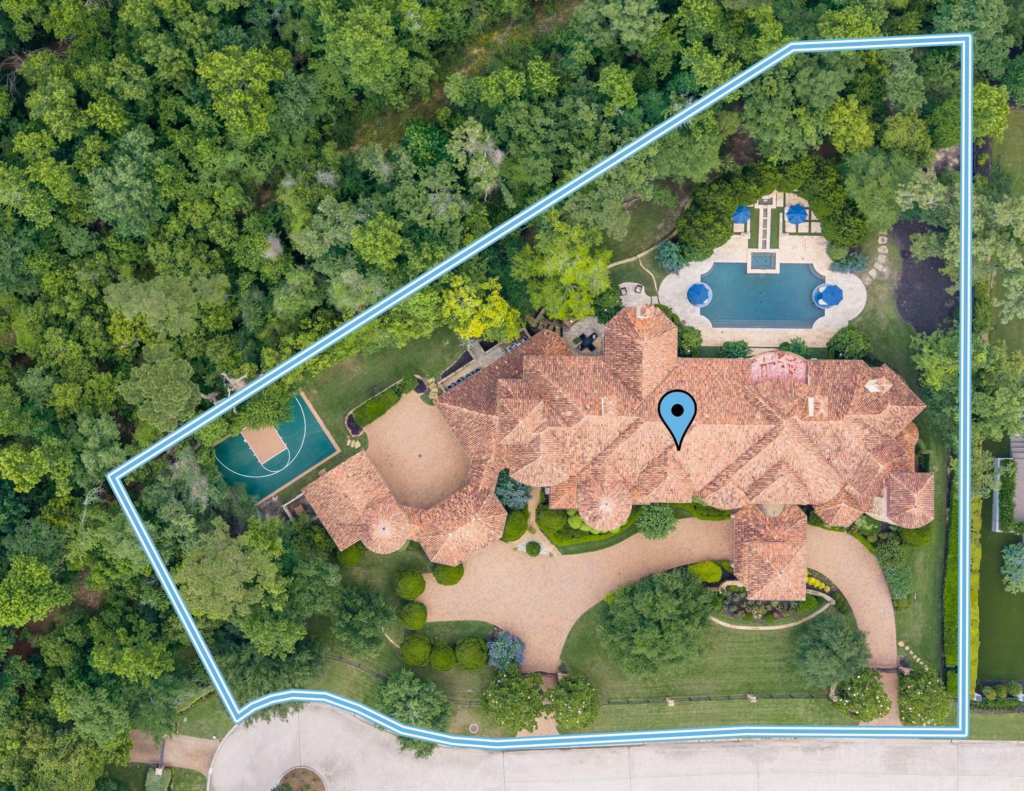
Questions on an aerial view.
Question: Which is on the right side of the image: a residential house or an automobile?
residential house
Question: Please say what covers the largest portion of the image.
trees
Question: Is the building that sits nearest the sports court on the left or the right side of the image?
left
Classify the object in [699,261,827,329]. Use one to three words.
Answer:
swimming pool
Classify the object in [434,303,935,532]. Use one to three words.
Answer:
house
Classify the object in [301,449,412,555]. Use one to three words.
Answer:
building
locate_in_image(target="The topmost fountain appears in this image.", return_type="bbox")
[754,191,776,209]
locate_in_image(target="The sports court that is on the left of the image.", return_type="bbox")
[220,391,340,505]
